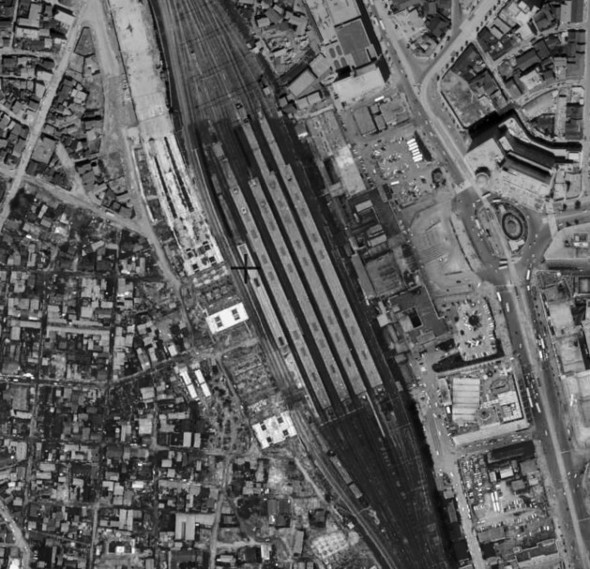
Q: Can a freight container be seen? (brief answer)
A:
No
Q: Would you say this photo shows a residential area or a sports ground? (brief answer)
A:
residential area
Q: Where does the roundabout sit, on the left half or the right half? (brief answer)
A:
right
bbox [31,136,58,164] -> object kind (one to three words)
house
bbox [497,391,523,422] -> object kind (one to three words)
building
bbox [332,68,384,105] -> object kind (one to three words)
building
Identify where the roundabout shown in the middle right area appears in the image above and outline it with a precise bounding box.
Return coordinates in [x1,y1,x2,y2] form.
[478,202,529,259]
